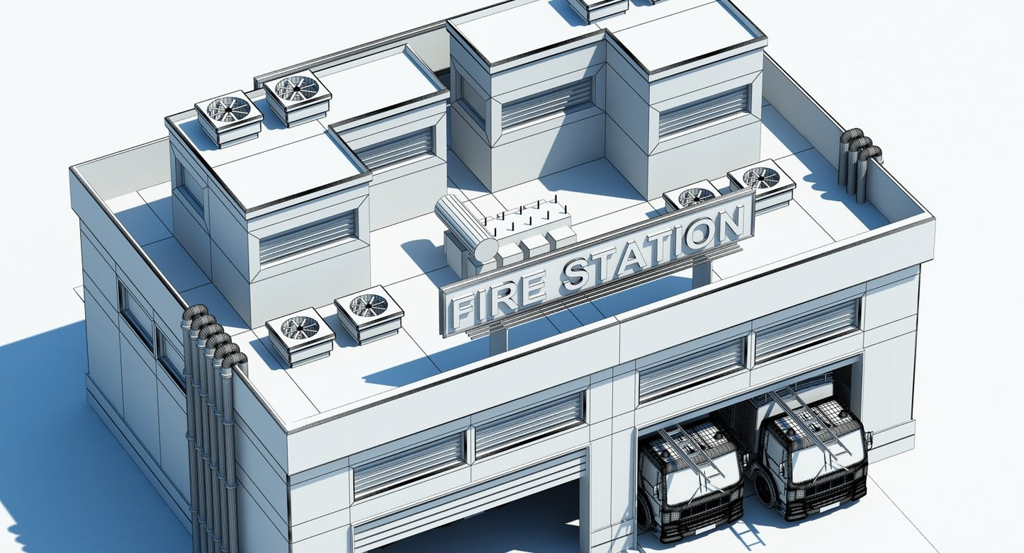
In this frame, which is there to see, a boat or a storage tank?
storage tank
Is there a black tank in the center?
No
